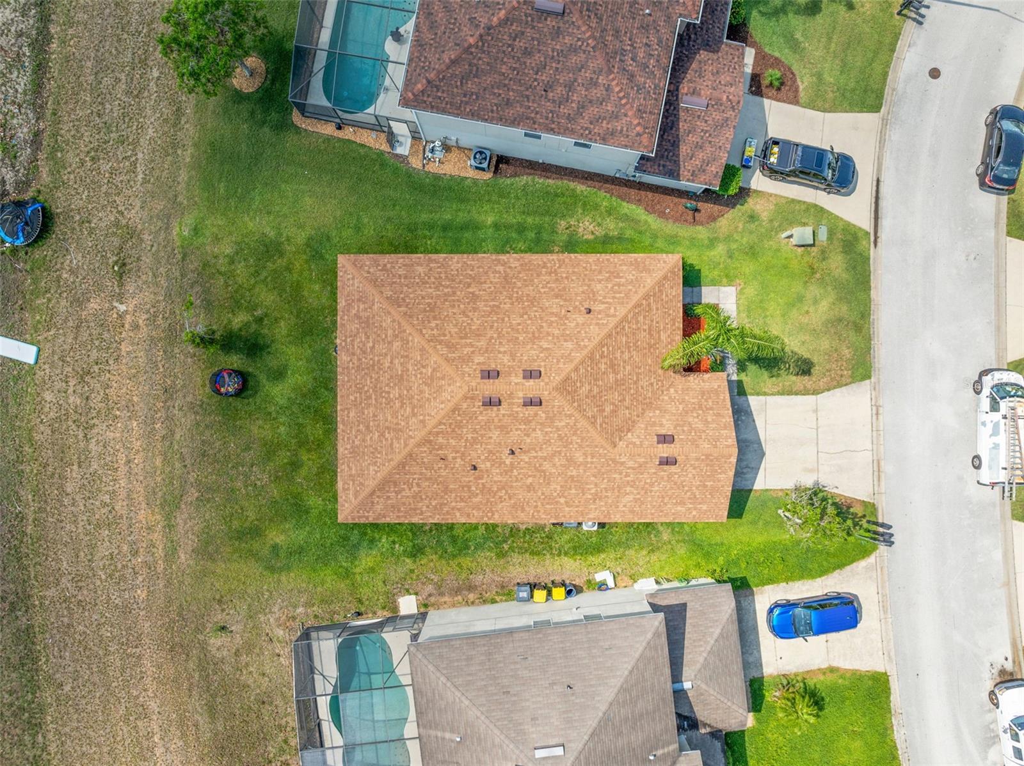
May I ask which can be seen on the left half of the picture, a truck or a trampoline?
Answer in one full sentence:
Looking on the left half of the picture, you will find a trampoline.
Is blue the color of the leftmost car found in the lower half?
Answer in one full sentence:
Yes, blue is the color of the leftmost car found in the lower half.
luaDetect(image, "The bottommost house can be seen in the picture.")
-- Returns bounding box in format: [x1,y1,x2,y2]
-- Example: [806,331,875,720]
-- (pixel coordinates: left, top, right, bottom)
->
[407,578,749,766]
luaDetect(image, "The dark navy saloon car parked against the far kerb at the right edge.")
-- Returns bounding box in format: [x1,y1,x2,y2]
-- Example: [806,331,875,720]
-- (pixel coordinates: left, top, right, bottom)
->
[972,101,1024,192]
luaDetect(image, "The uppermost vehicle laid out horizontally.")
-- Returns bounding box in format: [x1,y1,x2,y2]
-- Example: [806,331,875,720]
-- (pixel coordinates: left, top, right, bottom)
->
[756,135,860,194]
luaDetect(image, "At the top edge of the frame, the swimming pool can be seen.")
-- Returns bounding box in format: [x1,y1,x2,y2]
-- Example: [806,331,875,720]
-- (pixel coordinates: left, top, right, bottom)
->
[320,0,415,116]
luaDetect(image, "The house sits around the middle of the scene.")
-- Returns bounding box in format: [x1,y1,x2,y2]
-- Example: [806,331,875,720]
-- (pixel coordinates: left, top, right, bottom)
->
[336,254,739,523]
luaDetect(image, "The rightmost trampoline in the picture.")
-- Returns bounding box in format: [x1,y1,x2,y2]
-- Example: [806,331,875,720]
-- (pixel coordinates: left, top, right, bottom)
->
[205,367,245,399]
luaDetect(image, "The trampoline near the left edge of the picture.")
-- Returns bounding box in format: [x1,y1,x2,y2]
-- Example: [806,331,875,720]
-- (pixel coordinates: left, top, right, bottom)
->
[0,193,47,251]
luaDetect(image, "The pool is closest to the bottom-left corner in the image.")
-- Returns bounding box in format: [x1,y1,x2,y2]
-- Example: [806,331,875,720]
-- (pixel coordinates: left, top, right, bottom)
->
[327,628,413,766]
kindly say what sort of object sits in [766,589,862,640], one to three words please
car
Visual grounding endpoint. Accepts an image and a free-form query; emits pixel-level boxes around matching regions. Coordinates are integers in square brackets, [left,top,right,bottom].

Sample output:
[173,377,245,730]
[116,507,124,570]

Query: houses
[336,254,739,523]
[407,578,749,766]
[395,0,746,197]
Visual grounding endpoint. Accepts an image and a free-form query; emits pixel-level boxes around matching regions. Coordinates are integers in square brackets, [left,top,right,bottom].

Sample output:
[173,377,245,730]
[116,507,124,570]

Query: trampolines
[0,193,47,251]
[205,367,245,399]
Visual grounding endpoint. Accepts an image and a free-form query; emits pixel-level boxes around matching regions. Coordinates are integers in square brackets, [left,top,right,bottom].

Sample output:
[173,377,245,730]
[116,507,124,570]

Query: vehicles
[766,589,862,640]
[970,367,1024,483]
[756,135,860,194]
[972,101,1024,192]
[984,683,1024,766]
